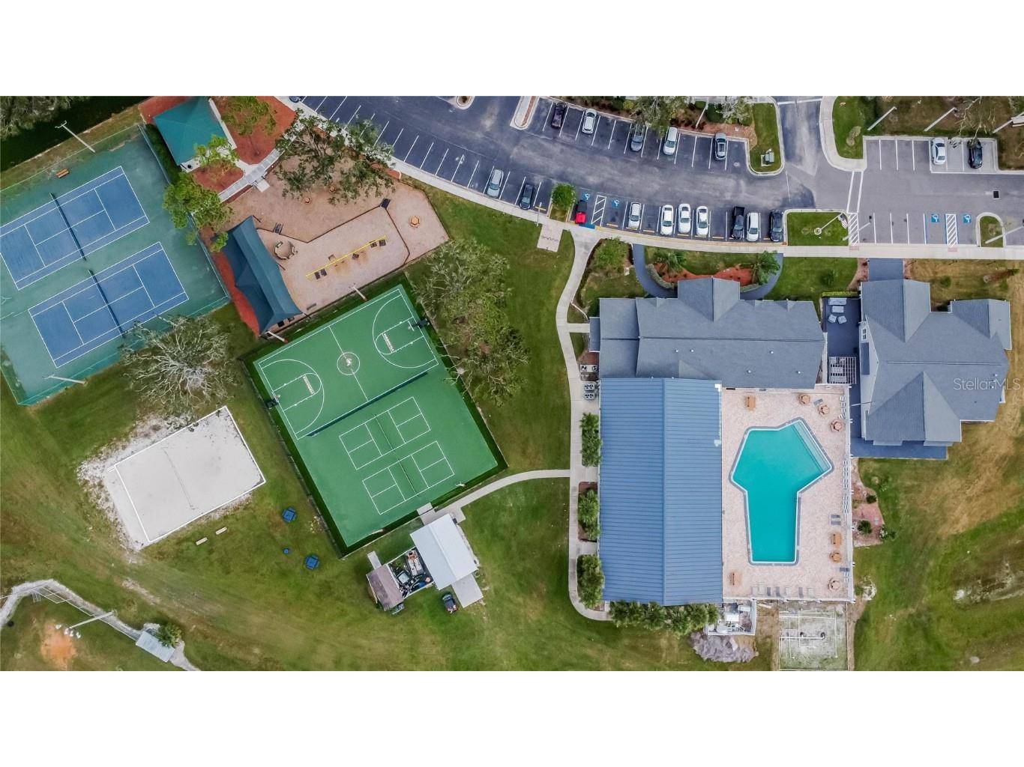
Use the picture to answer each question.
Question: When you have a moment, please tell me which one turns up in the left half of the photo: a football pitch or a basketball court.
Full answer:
What appears in the left half of the photo is a basketball court.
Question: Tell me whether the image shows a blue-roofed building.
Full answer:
Yes, there's a blue-roofed building here.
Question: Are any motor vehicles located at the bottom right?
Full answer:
No, no motor vehicle can be made out at the bottom right.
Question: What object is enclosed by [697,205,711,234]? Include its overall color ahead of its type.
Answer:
white car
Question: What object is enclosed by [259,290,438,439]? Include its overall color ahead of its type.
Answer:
green basketball court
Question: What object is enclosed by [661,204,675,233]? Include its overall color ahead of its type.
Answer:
white car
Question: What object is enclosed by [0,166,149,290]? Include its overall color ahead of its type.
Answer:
blue tennis court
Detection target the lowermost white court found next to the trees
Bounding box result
[107,405,266,543]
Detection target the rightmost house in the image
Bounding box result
[853,279,1011,446]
